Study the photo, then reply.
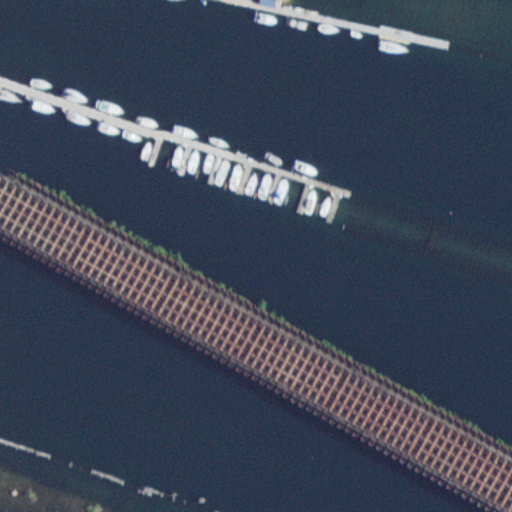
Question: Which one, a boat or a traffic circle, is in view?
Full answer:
It is a boat that can be seen here.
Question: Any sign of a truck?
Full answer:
No, no truck is visible in the scene.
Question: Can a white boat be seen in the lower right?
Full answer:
No, in the lower right there is no white boat.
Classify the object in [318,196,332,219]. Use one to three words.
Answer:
boat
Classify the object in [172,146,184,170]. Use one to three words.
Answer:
boat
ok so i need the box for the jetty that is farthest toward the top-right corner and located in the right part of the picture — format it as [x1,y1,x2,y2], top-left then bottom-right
[218,0,450,50]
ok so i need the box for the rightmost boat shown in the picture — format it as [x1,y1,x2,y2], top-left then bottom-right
[377,40,410,54]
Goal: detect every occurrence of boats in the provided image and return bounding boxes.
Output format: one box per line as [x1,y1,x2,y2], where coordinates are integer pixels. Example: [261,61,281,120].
[208,136,230,148]
[318,196,332,219]
[264,152,283,166]
[96,122,120,134]
[318,23,339,34]
[62,88,88,103]
[214,160,230,188]
[348,30,362,39]
[121,130,142,142]
[94,100,124,114]
[229,163,243,193]
[274,177,288,207]
[304,189,317,217]
[30,78,52,89]
[171,124,198,138]
[244,174,256,198]
[258,173,272,202]
[65,112,91,125]
[187,148,200,176]
[140,142,152,162]
[30,100,56,113]
[203,152,214,175]
[0,90,22,101]
[292,159,318,176]
[252,12,278,24]
[377,40,410,54]
[135,117,159,128]
[172,146,184,170]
